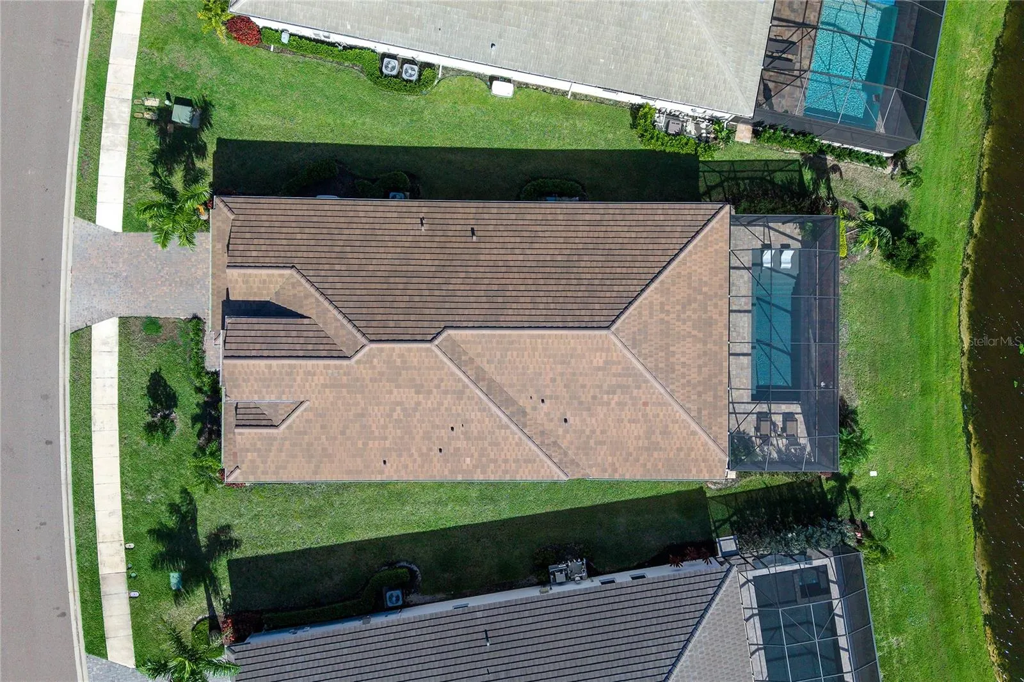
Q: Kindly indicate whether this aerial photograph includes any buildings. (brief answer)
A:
Yes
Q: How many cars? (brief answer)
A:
0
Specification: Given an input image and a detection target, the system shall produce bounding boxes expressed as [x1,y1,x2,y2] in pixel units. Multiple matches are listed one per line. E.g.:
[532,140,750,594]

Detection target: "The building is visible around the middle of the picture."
[211,197,731,484]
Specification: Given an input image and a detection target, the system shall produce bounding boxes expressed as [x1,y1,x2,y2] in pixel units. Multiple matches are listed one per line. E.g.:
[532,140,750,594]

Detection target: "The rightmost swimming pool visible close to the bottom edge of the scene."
[750,560,848,682]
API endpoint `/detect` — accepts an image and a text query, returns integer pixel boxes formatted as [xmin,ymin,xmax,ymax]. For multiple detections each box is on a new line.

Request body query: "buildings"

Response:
[211,197,731,484]
[228,0,774,120]
[224,557,753,682]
